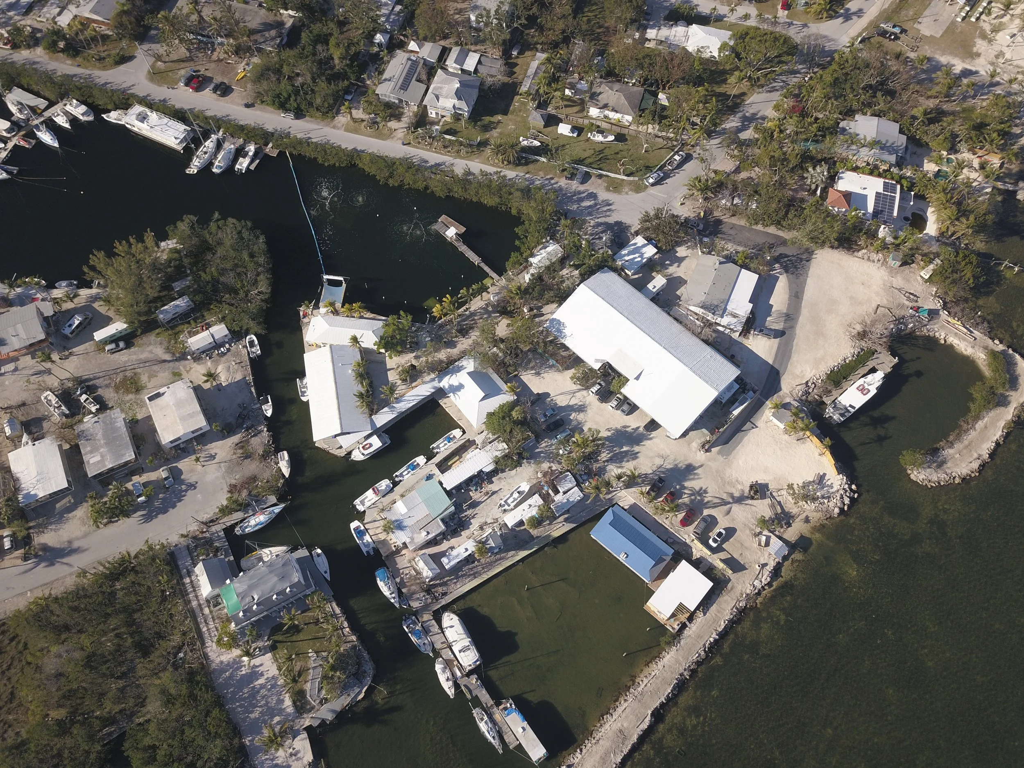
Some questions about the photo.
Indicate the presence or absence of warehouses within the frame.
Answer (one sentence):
Yes, there's a warehouse down there.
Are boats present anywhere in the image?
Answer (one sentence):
Yes, a boat can be made out from above.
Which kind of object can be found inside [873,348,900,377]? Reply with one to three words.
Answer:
pier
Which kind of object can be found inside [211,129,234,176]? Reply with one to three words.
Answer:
boat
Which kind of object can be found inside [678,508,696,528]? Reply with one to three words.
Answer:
car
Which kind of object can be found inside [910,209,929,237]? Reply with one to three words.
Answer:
swimming pool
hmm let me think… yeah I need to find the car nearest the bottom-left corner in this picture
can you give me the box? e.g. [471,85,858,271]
[1,531,17,553]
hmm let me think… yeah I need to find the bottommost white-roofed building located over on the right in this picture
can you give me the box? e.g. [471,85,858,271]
[644,560,713,632]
